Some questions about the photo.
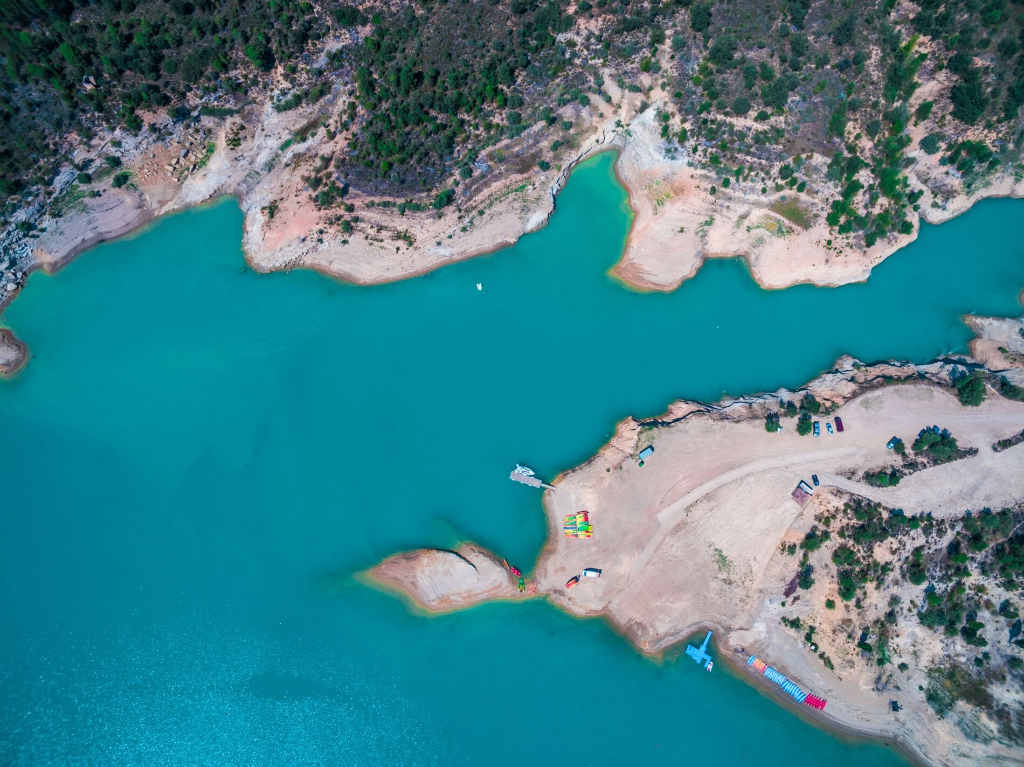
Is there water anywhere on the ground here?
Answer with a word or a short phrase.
Yes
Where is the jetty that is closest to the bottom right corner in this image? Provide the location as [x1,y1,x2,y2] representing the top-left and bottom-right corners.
[685,630,713,667]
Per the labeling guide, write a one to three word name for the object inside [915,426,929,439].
vehicle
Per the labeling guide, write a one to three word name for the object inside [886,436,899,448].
vehicle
